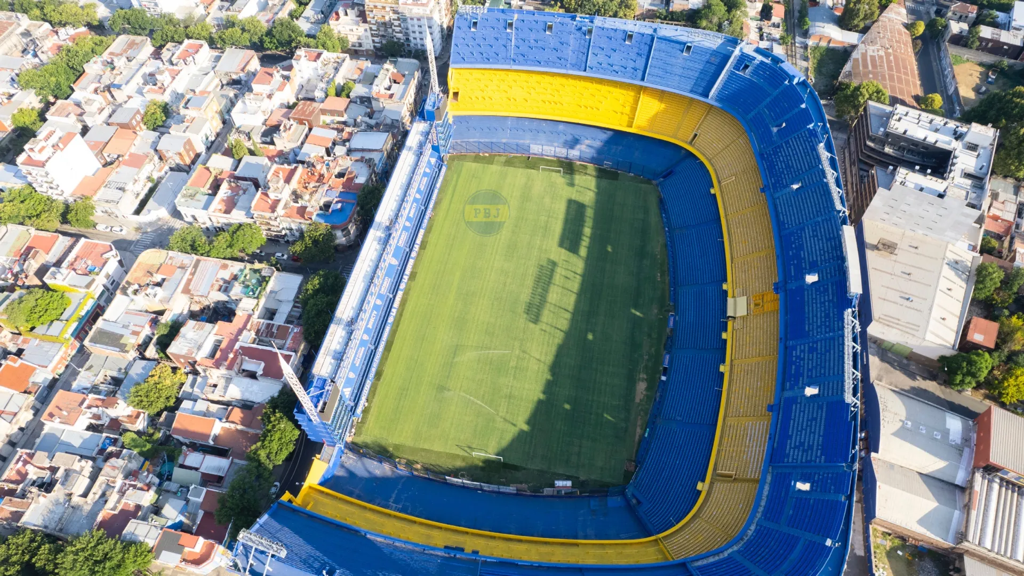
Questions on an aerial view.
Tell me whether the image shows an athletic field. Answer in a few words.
Yes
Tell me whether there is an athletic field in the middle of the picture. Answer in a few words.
Yes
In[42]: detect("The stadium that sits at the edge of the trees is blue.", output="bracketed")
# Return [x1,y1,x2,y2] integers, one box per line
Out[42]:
[224,8,861,576]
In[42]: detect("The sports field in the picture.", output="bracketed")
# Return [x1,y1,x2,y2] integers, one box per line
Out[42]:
[363,161,653,482]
